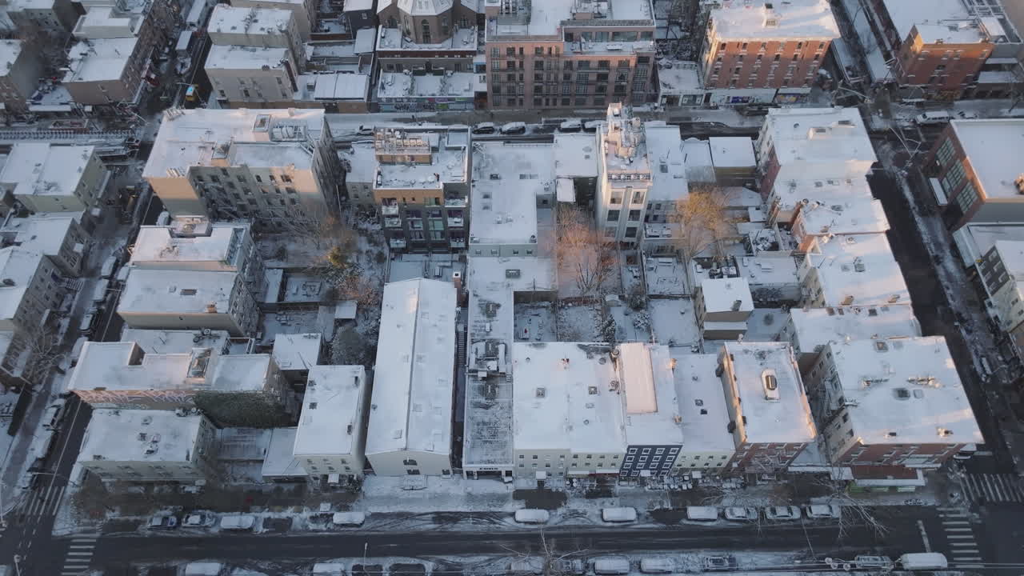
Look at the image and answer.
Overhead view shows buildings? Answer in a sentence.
Yes, there is a building in the image.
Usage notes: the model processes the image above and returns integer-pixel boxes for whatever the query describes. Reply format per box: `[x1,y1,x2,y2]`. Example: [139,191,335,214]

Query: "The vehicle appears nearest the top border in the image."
[185,0,212,35]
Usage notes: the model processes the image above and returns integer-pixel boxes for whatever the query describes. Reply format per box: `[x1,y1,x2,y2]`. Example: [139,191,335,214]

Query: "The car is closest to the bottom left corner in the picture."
[33,433,57,465]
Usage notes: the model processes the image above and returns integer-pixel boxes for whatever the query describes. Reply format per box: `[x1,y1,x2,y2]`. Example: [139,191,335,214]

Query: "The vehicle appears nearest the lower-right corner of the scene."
[902,552,946,571]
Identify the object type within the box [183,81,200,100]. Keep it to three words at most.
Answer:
vehicle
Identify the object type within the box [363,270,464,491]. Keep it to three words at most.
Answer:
building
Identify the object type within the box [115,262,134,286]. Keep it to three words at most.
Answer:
car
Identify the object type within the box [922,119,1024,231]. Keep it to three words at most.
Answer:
building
